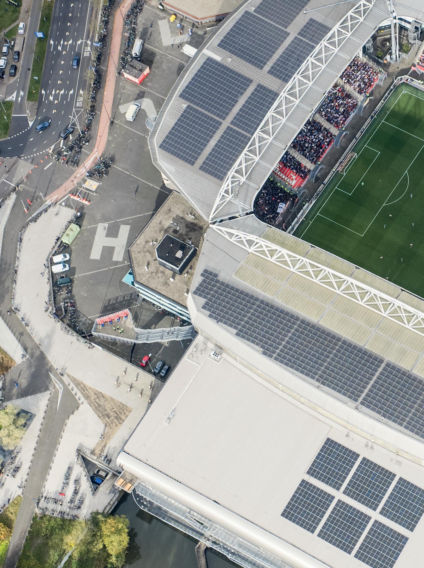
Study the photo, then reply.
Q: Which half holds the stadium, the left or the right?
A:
right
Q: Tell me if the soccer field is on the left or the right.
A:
right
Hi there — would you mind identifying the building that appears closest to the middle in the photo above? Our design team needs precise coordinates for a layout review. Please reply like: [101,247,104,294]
[121,191,210,324]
